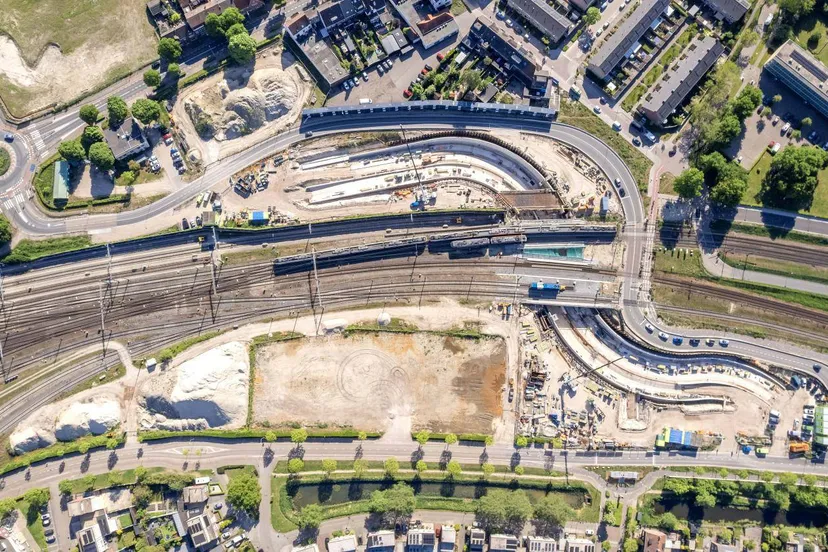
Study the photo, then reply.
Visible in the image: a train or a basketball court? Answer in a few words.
train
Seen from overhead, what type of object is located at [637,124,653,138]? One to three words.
vehicle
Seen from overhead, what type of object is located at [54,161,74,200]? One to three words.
shed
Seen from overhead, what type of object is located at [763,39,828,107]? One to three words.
building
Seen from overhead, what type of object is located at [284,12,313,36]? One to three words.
house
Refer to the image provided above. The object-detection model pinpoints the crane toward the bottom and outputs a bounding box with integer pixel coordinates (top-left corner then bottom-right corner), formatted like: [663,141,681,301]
[554,348,626,397]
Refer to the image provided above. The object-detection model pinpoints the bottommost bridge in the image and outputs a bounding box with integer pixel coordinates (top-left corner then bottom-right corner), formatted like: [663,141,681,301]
[496,269,622,309]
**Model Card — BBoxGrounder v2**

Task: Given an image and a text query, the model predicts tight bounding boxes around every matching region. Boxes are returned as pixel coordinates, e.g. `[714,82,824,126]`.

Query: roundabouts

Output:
[0,120,36,202]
